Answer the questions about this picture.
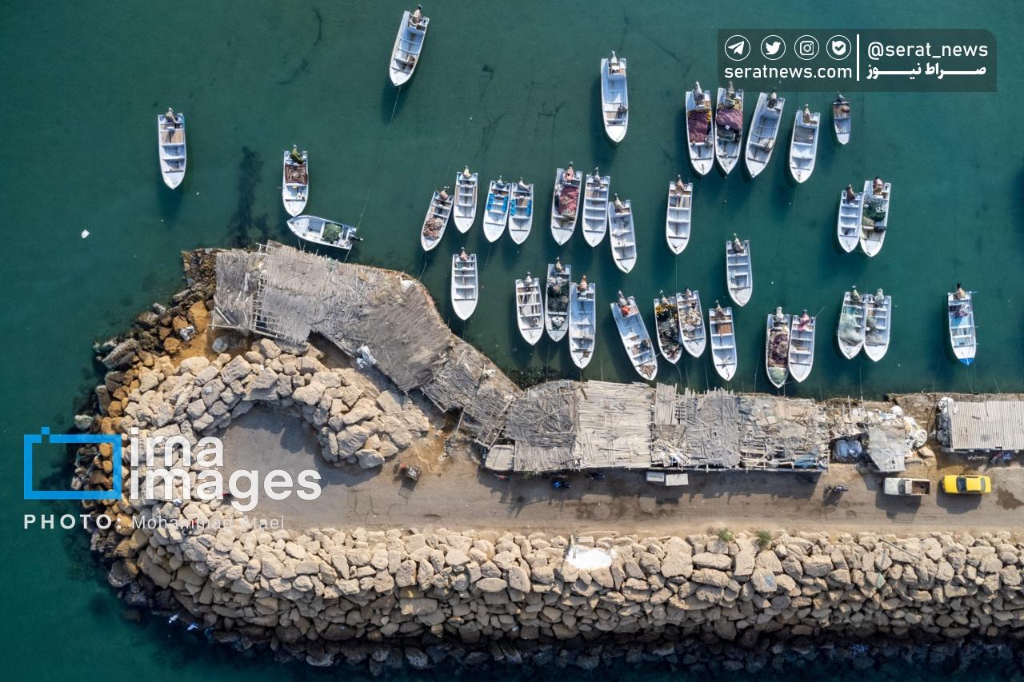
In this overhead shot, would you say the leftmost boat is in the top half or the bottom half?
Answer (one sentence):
Seen from above, the leftmost boat lies in the top half of the view.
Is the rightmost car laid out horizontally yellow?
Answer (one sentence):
Yes, the rightmost car laid out horizontally appears yellow.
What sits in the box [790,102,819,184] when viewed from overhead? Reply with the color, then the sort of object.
white boat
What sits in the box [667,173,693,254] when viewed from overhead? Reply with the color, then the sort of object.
white boat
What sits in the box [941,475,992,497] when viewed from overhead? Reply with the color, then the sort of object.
yellow car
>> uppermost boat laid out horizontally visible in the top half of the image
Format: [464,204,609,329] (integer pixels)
[287,215,361,249]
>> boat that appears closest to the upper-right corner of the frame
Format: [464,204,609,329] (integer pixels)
[832,93,851,146]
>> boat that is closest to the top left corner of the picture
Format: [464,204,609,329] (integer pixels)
[158,105,186,190]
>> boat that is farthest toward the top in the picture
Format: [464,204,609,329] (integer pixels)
[390,5,428,88]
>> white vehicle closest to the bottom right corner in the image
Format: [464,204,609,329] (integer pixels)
[883,477,933,499]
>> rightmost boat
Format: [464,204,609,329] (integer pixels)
[945,284,978,365]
